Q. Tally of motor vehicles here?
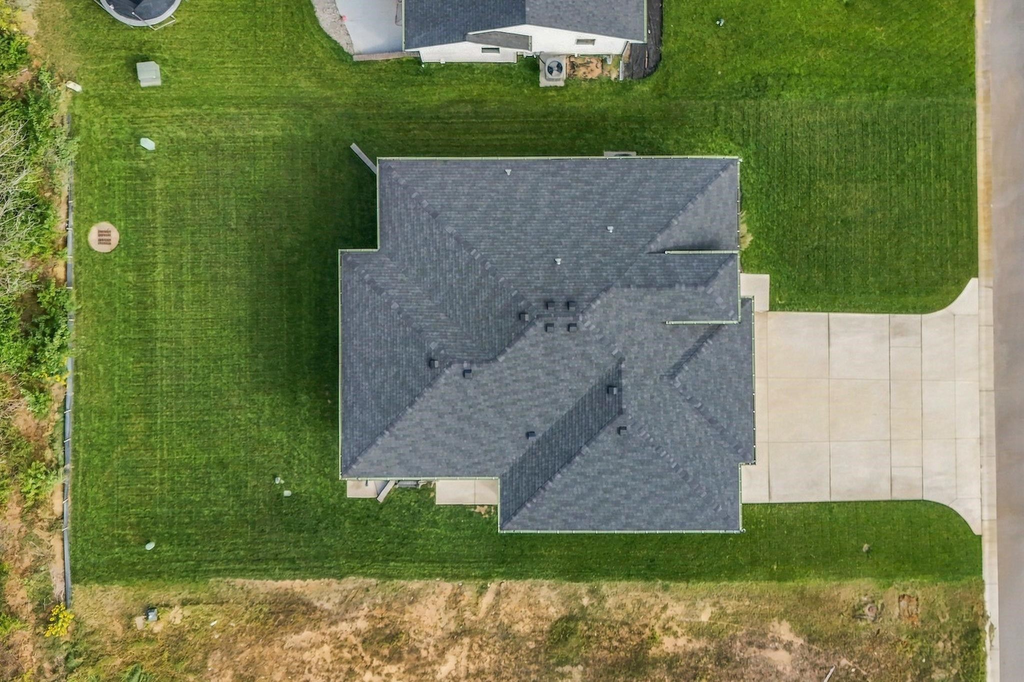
0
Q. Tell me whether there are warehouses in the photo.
No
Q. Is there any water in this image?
No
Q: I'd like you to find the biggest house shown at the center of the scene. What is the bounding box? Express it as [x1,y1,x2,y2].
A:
[339,157,755,533]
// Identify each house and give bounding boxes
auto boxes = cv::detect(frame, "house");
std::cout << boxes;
[402,0,647,64]
[339,157,755,533]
